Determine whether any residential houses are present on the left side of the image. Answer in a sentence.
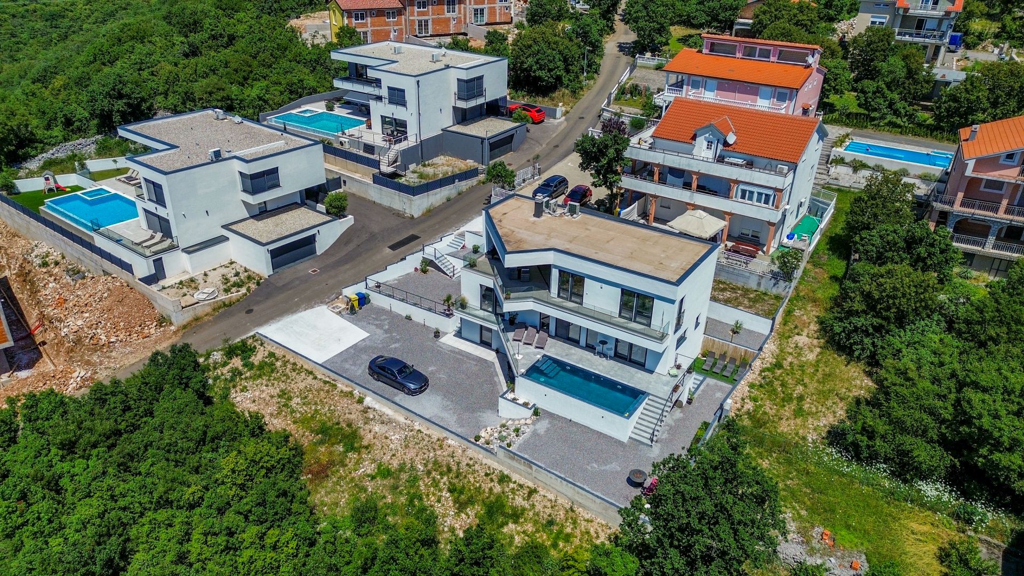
Yes, a residential house appears on the left side of the image.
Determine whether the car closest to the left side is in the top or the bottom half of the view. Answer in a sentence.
The car closest to the left side is in the bottom half of the image.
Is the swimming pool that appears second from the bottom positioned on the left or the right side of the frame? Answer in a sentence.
The swimming pool that appears second from the bottom sits on the left side.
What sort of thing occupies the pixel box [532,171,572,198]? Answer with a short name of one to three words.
car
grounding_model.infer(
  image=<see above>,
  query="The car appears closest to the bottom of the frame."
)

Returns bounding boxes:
[368,357,431,396]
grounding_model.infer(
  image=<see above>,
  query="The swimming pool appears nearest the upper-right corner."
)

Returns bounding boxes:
[820,135,952,183]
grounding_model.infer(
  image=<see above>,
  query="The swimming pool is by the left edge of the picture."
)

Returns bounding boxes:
[41,186,140,244]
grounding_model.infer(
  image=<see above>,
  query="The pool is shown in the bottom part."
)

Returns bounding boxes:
[518,354,650,442]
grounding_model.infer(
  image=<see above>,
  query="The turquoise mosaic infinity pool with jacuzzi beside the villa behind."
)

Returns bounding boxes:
[264,107,367,144]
